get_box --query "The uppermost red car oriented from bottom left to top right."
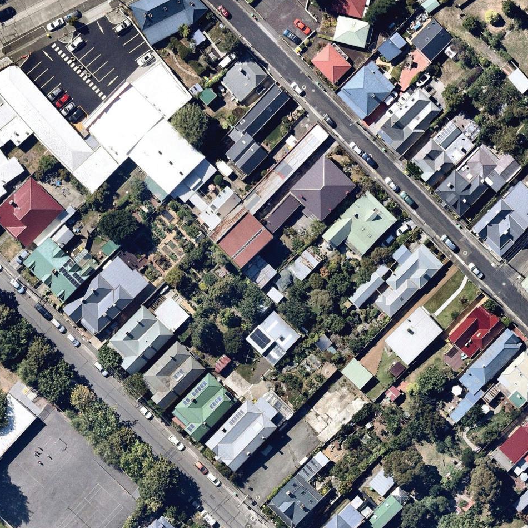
[55,94,71,107]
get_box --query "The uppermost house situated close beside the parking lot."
[129,0,204,43]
